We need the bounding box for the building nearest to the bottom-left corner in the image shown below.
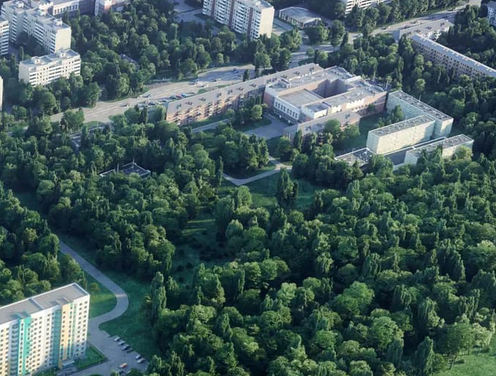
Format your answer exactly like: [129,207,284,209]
[0,281,90,376]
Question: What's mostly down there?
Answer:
trees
